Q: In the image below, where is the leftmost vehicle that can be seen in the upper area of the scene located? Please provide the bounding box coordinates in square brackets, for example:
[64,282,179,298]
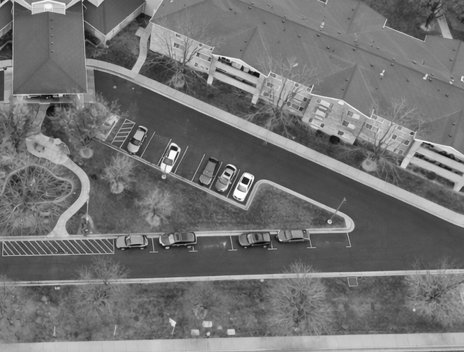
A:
[126,125,148,155]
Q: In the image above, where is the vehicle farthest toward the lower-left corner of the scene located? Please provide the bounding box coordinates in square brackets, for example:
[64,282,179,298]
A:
[114,233,150,250]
